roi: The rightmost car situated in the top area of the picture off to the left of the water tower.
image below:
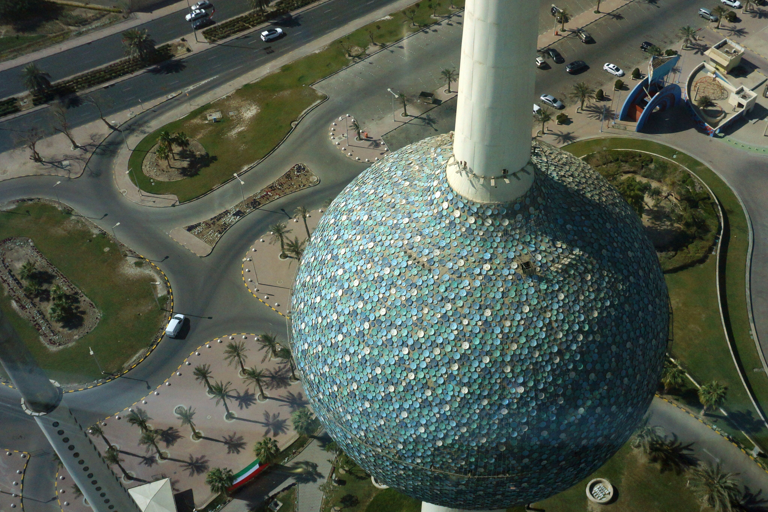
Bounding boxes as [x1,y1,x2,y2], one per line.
[260,27,283,41]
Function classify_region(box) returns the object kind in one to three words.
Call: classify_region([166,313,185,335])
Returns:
vehicle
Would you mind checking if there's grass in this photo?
Yes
